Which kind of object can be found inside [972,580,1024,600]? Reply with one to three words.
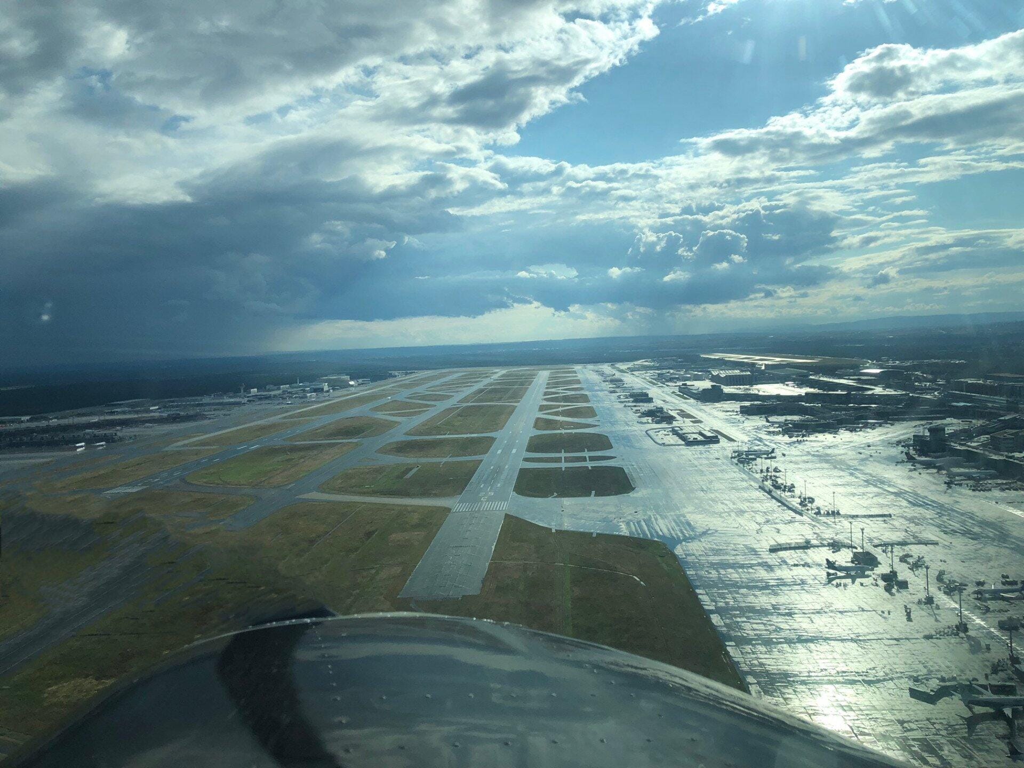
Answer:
airplane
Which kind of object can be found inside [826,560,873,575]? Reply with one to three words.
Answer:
airplane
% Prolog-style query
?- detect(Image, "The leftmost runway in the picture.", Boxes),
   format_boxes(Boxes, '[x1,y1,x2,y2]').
[93,371,466,498]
